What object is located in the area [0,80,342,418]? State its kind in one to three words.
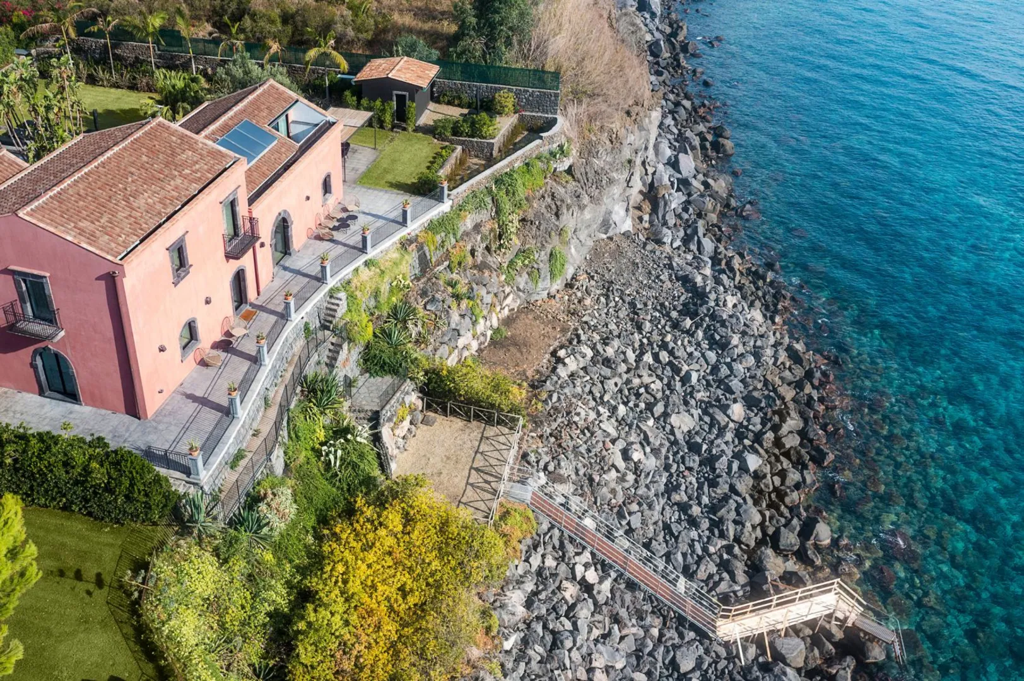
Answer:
house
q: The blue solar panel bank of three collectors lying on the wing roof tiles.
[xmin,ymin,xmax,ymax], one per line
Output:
[216,116,282,164]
